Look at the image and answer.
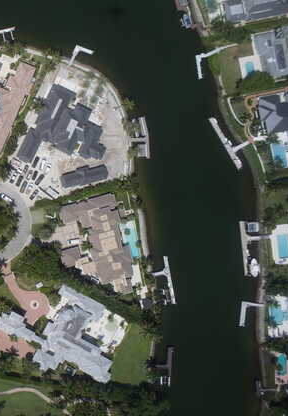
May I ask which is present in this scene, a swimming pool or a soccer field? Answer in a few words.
swimming pool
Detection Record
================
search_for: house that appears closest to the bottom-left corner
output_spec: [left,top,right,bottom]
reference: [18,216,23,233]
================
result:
[0,284,114,383]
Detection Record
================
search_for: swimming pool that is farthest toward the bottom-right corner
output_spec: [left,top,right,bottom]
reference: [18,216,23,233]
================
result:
[274,352,287,376]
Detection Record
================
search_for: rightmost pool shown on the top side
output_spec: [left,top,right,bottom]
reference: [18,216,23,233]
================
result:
[271,143,288,168]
